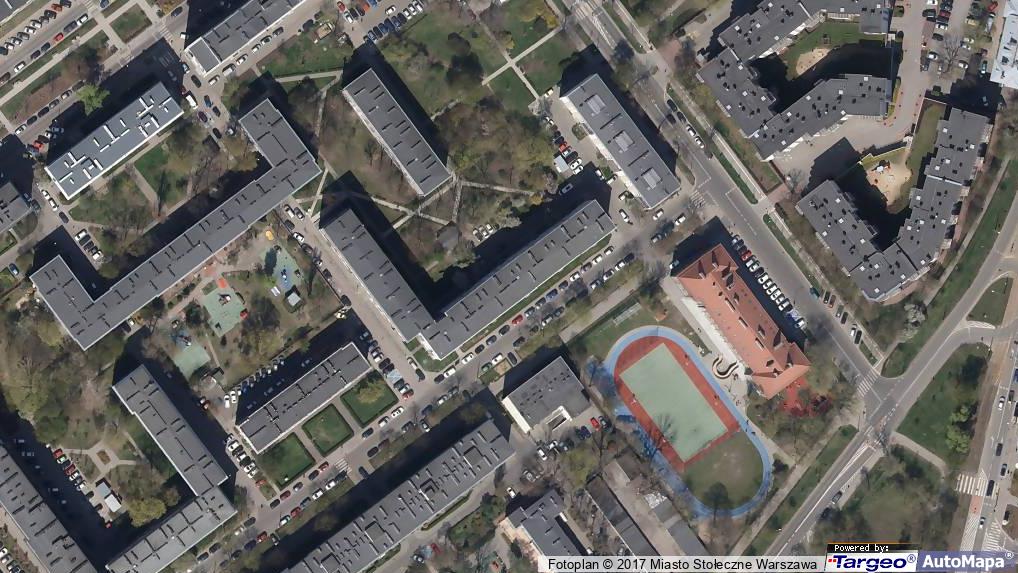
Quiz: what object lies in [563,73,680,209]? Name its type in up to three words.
building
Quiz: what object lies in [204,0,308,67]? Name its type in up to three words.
building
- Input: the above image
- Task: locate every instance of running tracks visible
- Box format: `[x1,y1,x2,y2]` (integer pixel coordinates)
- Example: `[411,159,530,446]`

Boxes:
[603,324,775,521]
